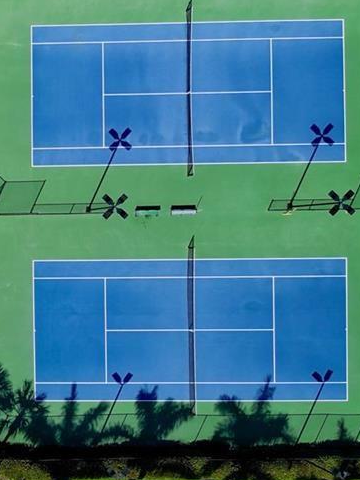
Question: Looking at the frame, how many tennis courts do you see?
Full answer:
In total, 2 tennis courts can be seen.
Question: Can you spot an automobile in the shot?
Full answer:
No, the picture doesn't show any automobile.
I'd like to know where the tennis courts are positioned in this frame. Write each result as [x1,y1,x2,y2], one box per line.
[33,257,348,401]
[31,19,346,167]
